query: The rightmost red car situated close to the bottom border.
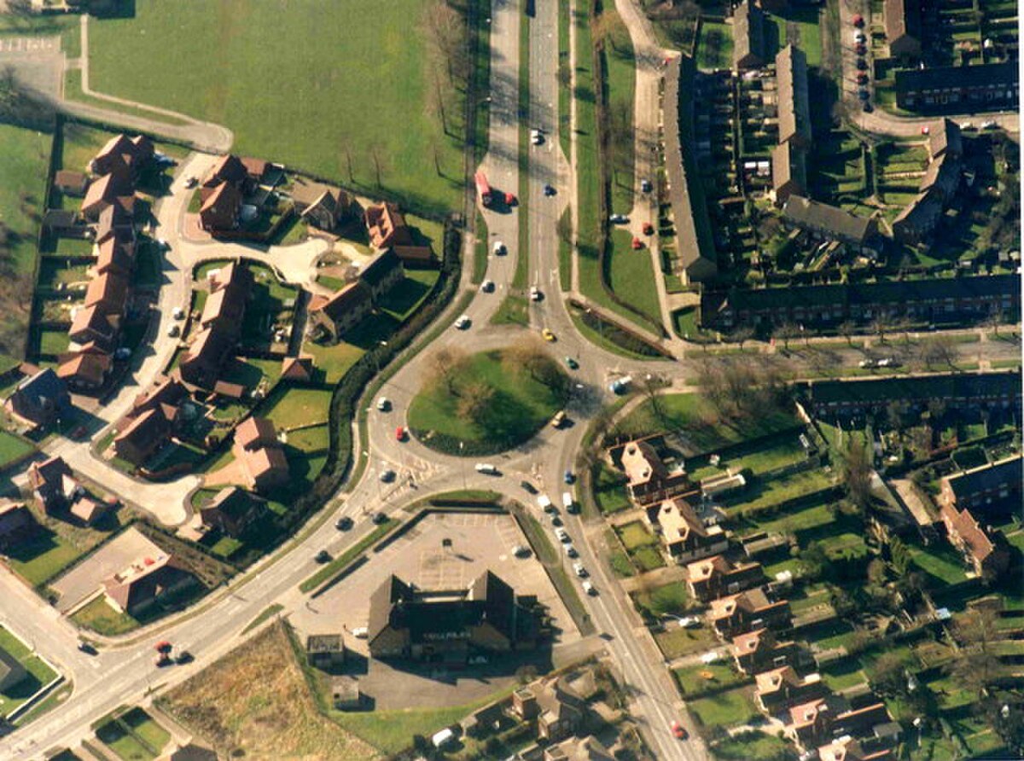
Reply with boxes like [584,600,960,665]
[672,724,685,740]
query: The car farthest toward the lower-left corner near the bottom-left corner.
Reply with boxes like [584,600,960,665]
[78,642,96,655]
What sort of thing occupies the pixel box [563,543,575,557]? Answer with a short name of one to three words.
vehicle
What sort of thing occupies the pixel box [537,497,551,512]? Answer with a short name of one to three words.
vehicle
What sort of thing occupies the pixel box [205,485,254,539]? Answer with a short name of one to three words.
house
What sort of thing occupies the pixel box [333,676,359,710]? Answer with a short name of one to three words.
shed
